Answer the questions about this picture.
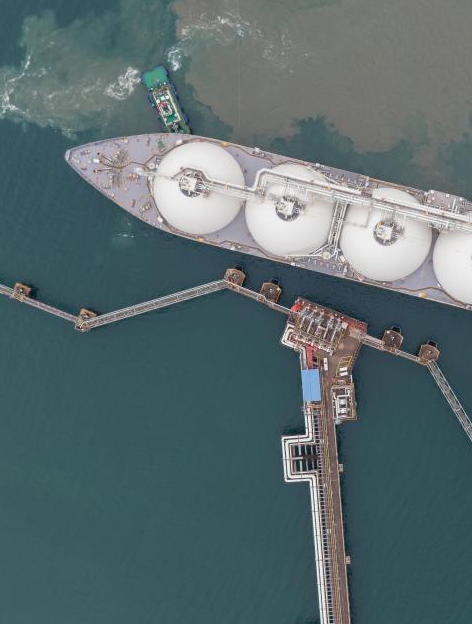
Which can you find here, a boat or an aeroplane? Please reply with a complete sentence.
I can see a boat in this picture.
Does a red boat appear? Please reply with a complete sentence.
No, I can't see a single red boat in this photo.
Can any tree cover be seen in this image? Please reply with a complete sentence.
No, no tree cover is visible.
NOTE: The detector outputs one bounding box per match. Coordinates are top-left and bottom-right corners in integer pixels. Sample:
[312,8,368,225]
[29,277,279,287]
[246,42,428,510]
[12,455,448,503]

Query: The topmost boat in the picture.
[141,63,190,136]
